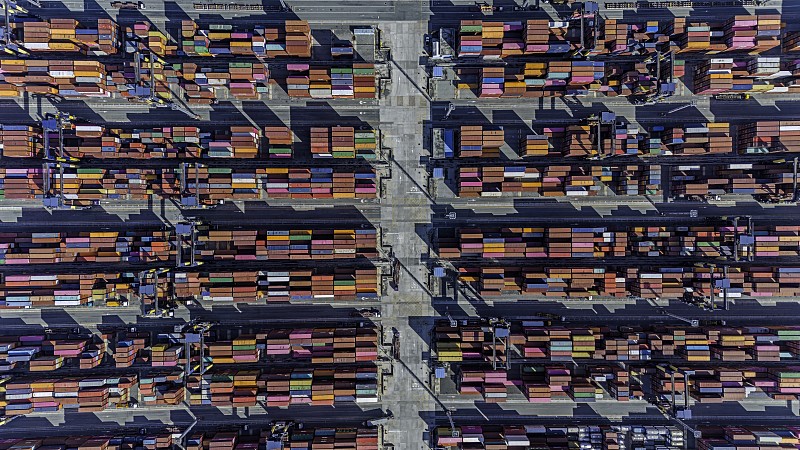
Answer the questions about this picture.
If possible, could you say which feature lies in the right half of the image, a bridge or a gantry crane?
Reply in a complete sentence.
It is a gantry crane that can be seen in the right half of the image.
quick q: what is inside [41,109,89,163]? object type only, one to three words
container crane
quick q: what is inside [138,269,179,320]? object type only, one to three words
container crane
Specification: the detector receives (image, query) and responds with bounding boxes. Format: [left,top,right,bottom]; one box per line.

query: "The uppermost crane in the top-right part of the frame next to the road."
[564,0,599,61]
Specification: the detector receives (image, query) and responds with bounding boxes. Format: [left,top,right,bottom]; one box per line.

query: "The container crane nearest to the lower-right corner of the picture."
[649,364,691,422]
